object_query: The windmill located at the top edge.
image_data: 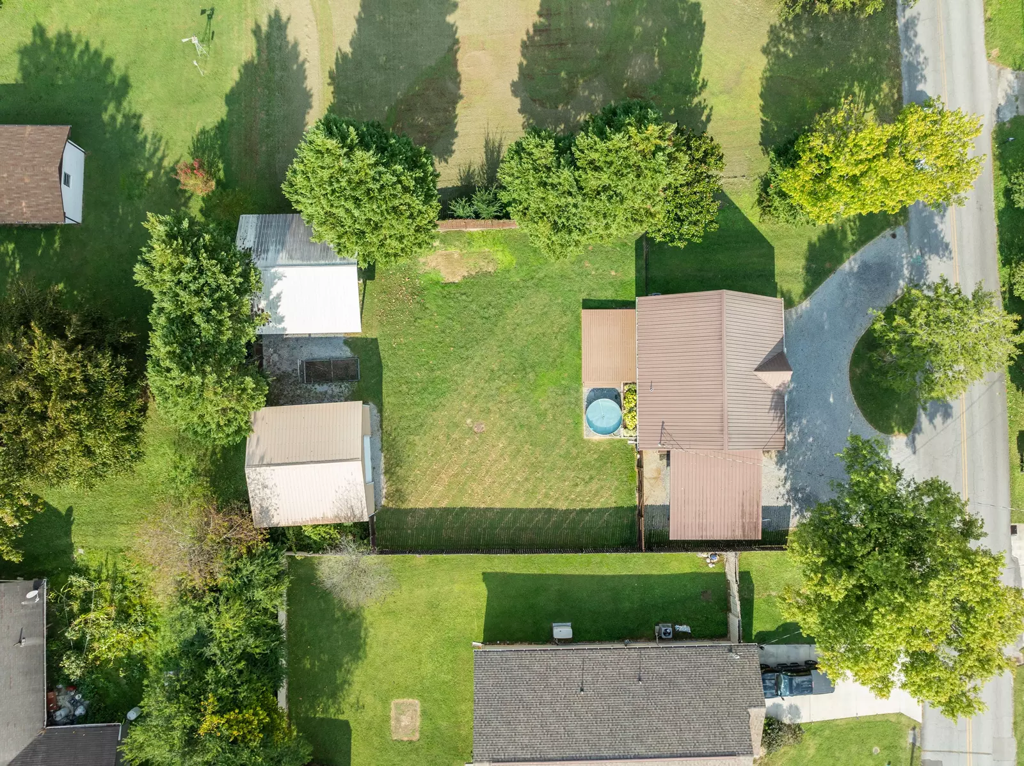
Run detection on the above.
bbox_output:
[179,29,213,60]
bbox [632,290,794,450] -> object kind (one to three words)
house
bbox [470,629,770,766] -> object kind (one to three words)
house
